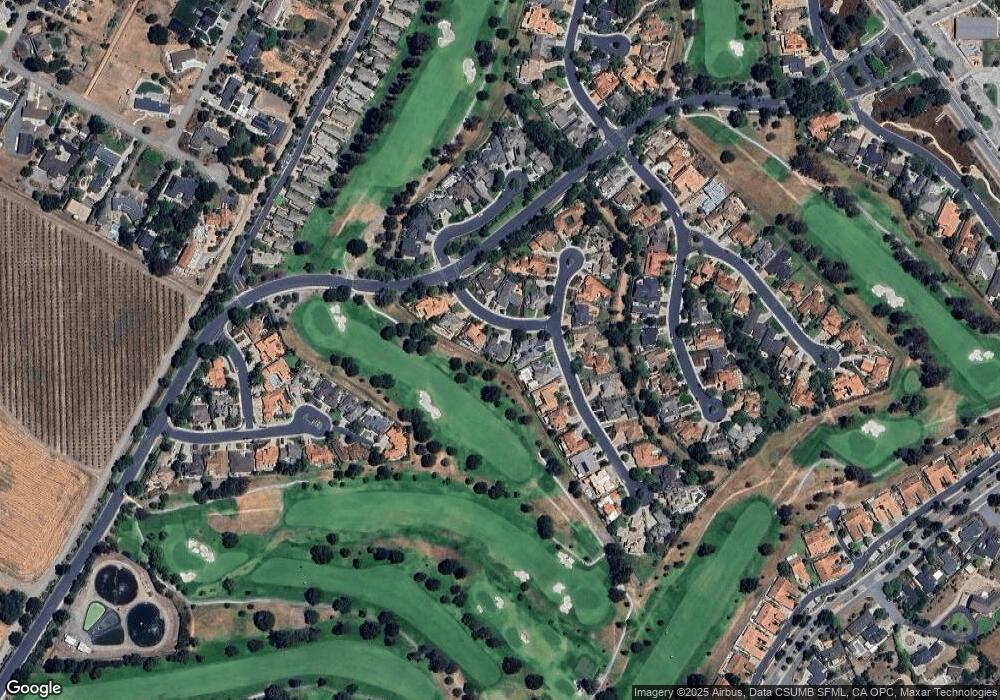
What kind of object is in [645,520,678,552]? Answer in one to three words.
house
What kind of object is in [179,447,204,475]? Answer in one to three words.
house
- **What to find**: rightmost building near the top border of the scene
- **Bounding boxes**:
[957,16,999,39]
